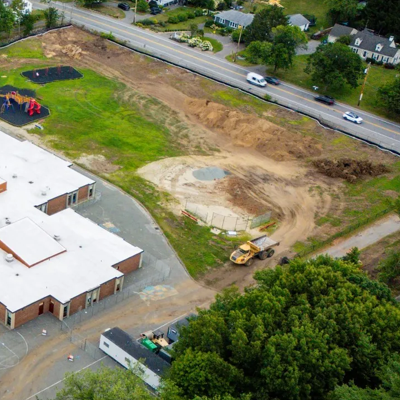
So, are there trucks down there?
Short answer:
Yes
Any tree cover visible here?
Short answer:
Yes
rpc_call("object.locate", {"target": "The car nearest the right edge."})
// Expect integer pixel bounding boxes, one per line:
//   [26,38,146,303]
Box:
[341,109,362,122]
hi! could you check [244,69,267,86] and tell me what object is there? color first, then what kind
white vehicle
